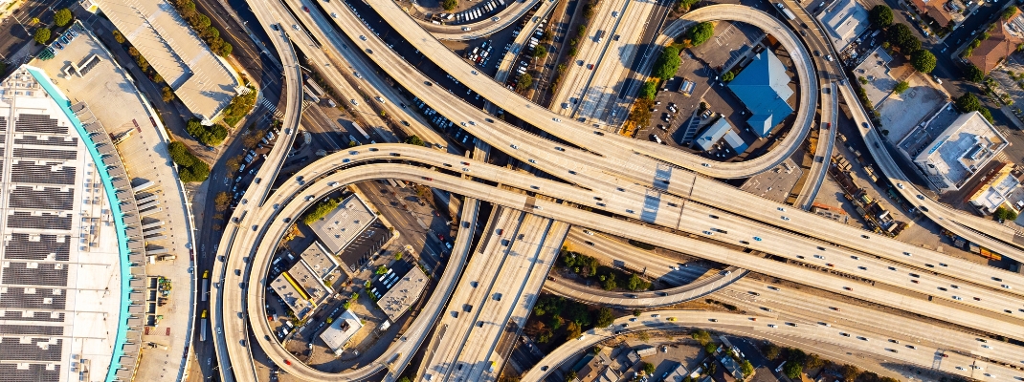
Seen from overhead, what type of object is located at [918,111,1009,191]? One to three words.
building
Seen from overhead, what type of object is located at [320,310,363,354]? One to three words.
shed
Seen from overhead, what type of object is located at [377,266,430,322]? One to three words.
building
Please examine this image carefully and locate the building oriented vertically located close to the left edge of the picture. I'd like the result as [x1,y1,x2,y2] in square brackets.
[0,60,137,382]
